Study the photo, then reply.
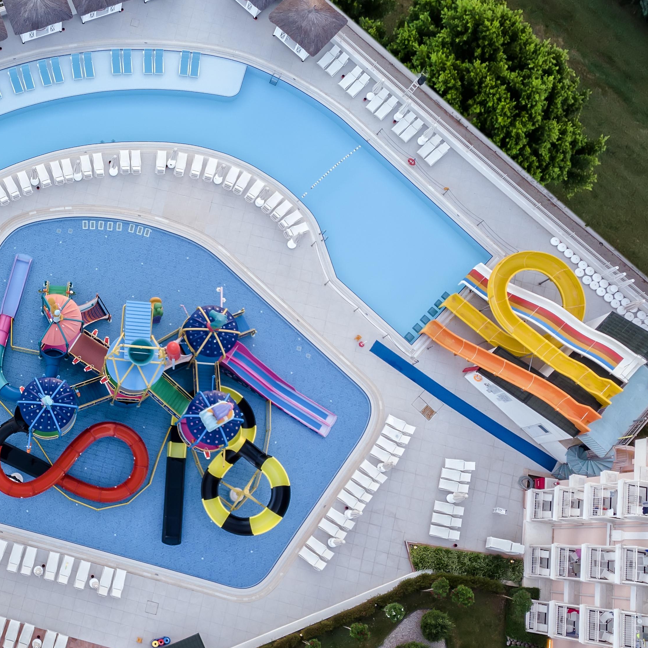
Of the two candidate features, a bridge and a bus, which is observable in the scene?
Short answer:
bridge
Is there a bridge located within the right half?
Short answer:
No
